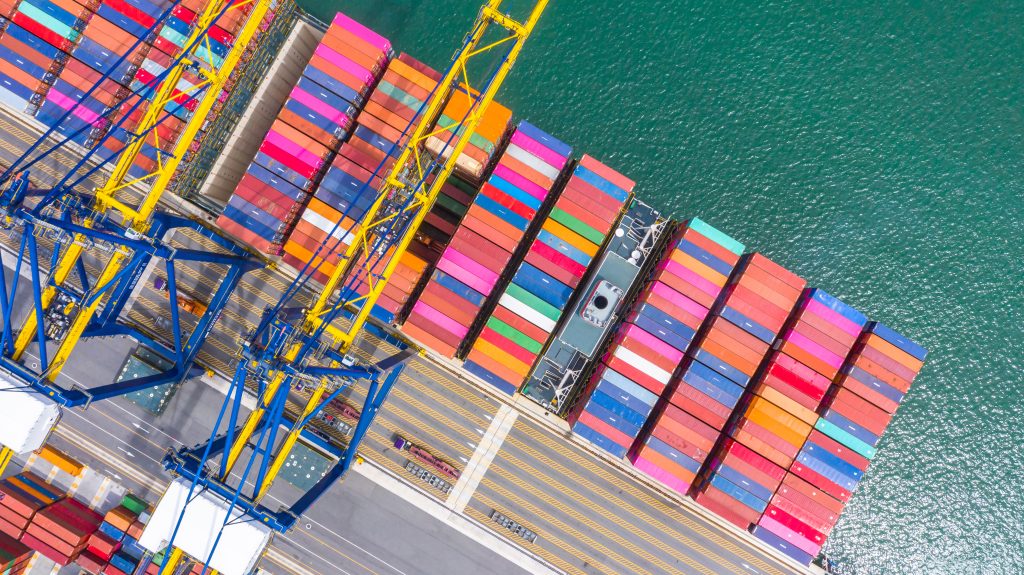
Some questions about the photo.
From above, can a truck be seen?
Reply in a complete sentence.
Yes, a truck appears in the view.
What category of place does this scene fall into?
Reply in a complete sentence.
This image shows a port.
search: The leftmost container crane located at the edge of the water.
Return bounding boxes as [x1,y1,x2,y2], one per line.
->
[0,0,271,476]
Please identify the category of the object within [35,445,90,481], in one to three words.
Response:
shipping container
